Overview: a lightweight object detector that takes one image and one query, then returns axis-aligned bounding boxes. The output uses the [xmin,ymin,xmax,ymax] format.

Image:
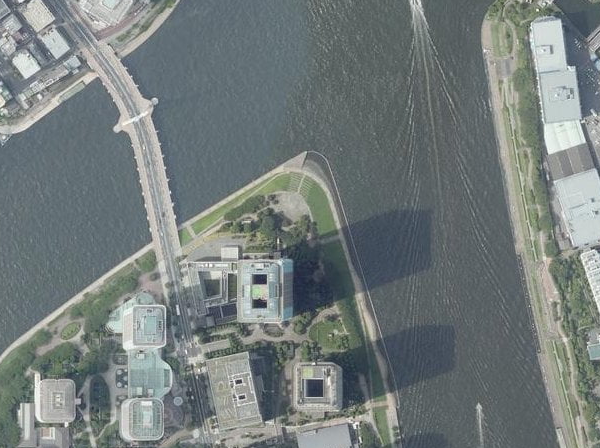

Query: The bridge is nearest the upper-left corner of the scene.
[84,37,180,246]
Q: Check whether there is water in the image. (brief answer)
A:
Yes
